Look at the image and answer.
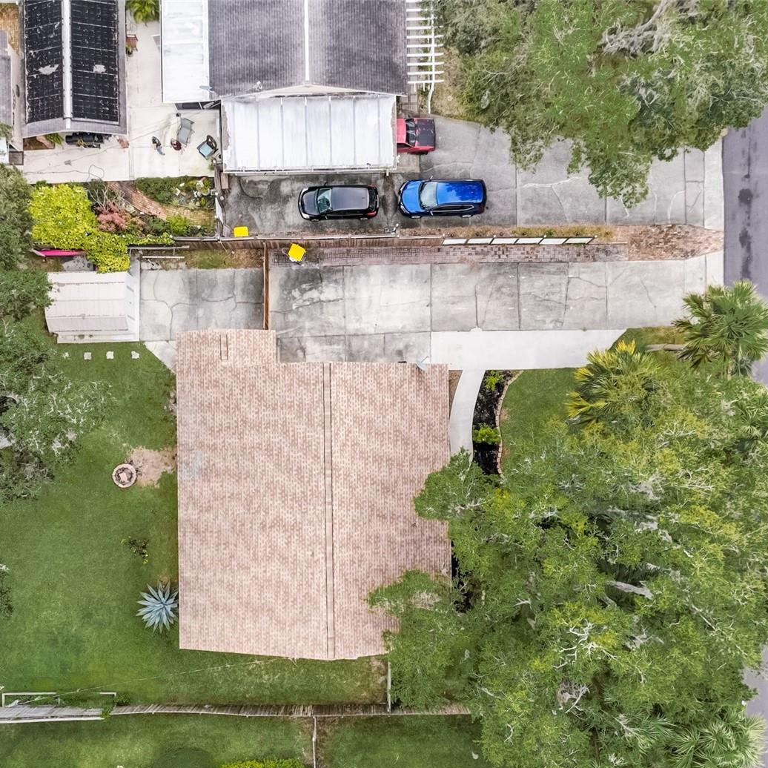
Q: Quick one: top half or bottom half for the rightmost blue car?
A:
top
